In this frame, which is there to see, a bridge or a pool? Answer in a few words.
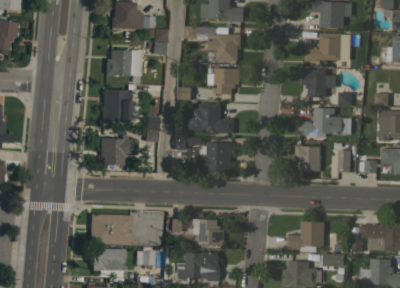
pool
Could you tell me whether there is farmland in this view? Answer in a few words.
No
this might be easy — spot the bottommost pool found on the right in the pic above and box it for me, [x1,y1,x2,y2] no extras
[340,72,361,92]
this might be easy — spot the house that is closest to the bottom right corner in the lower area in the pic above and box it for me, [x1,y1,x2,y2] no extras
[361,260,400,288]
